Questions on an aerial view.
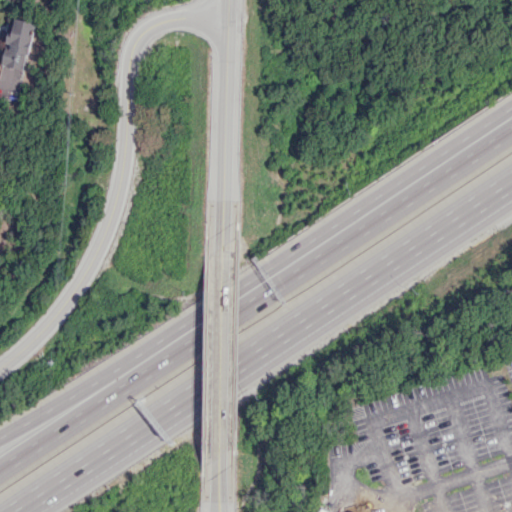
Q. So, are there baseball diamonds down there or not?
No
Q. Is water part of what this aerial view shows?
No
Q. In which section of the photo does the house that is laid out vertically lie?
top left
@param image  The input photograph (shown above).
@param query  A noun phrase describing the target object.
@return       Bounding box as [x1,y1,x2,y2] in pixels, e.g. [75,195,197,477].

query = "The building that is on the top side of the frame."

[0,19,36,94]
